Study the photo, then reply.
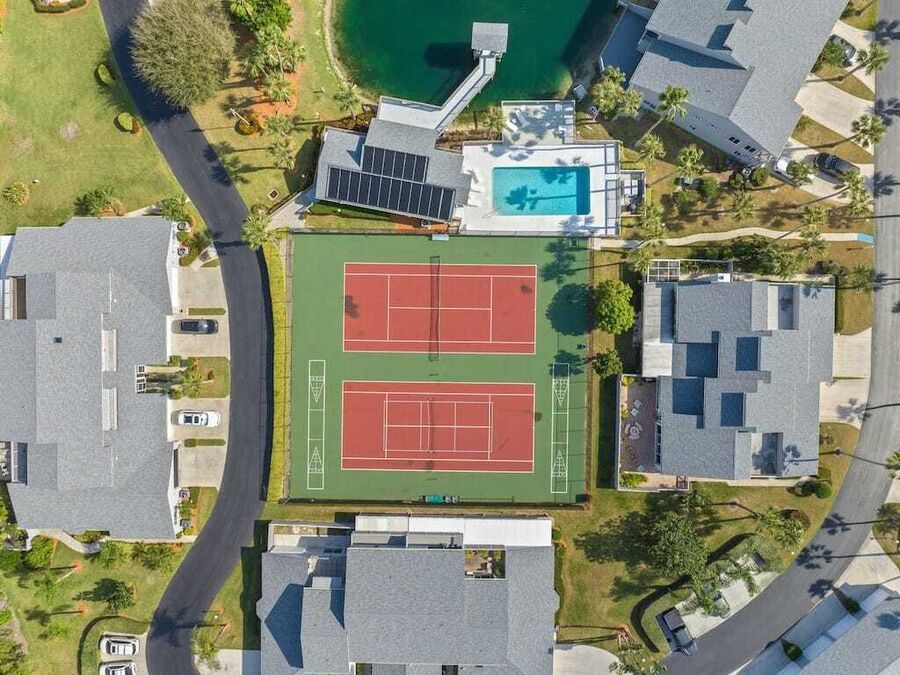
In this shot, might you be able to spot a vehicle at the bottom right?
Yes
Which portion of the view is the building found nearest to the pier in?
top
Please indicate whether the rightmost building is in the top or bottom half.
bottom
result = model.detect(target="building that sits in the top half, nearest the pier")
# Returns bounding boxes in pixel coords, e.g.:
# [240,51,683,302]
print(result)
[316,119,471,223]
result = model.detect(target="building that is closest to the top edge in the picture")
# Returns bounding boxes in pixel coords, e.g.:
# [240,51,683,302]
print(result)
[601,0,849,169]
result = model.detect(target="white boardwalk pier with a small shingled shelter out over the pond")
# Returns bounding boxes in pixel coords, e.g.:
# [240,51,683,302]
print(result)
[376,22,509,130]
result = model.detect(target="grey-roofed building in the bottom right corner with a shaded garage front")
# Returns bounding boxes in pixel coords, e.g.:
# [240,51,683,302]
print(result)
[767,579,900,675]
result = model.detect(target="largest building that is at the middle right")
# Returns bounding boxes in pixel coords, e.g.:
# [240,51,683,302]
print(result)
[618,260,833,495]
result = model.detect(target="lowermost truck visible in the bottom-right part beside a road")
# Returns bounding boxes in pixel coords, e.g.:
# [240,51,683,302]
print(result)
[658,602,694,650]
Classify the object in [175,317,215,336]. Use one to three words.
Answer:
car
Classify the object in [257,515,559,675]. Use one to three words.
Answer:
building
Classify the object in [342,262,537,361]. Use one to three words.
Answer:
tennis court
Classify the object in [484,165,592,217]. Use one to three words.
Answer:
swimming pool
